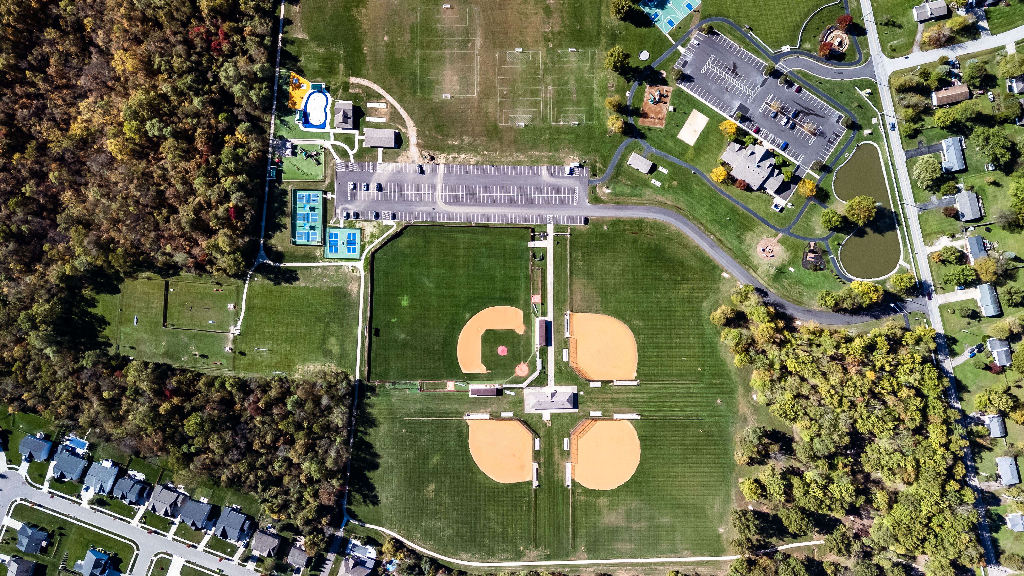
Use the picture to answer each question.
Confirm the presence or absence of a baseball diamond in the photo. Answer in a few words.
Yes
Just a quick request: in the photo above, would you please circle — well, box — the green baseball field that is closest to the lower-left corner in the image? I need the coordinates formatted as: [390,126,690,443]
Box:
[339,254,536,416]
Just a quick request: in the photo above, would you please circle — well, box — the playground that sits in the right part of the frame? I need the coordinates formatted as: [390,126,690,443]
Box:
[639,85,672,128]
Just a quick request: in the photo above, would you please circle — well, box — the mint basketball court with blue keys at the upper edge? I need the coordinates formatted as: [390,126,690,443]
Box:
[639,0,702,34]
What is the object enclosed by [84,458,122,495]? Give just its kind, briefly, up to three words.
house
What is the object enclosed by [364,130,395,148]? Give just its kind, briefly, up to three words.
building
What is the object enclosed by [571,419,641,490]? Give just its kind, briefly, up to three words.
baseball field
